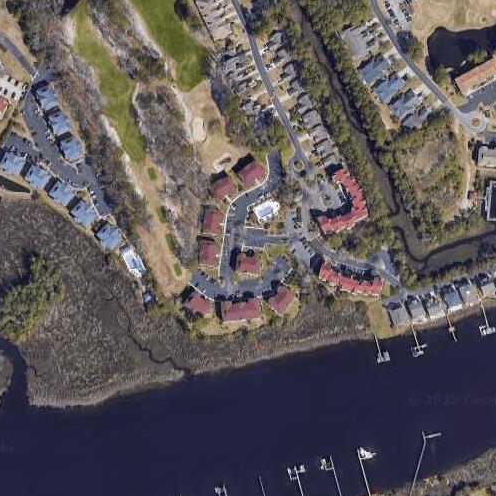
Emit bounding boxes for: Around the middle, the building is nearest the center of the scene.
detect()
[237,254,260,275]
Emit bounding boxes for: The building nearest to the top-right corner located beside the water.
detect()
[453,57,496,98]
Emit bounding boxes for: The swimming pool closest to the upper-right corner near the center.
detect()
[254,199,279,222]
